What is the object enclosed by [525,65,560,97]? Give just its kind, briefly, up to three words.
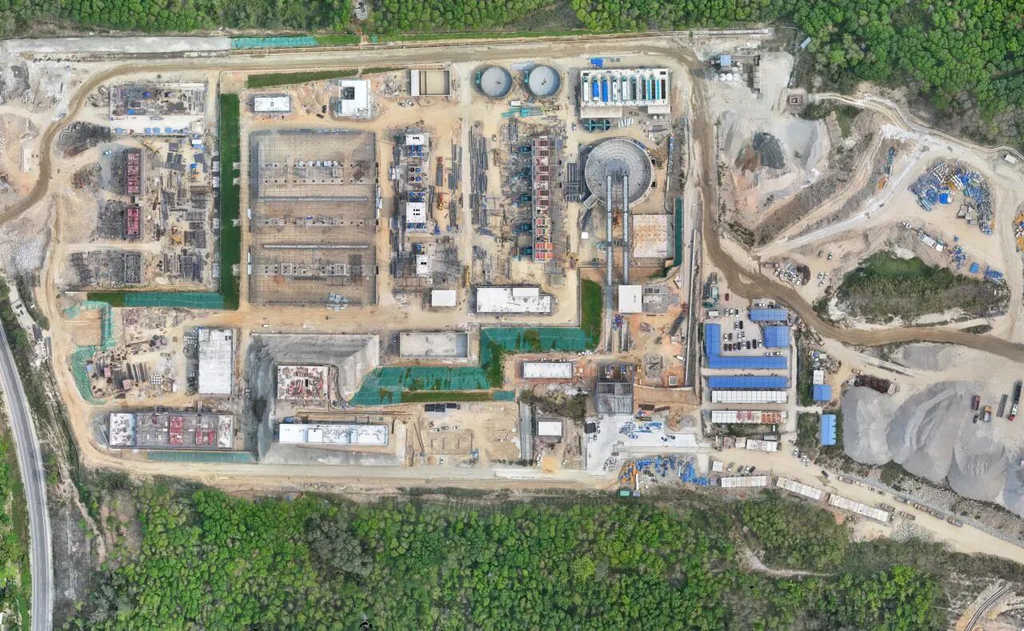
storage tank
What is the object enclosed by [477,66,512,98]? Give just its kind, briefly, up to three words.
storage tank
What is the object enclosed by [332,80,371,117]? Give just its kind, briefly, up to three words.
building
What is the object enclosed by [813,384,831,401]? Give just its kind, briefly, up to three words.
building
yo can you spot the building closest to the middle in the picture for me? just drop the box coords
[476,288,551,312]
